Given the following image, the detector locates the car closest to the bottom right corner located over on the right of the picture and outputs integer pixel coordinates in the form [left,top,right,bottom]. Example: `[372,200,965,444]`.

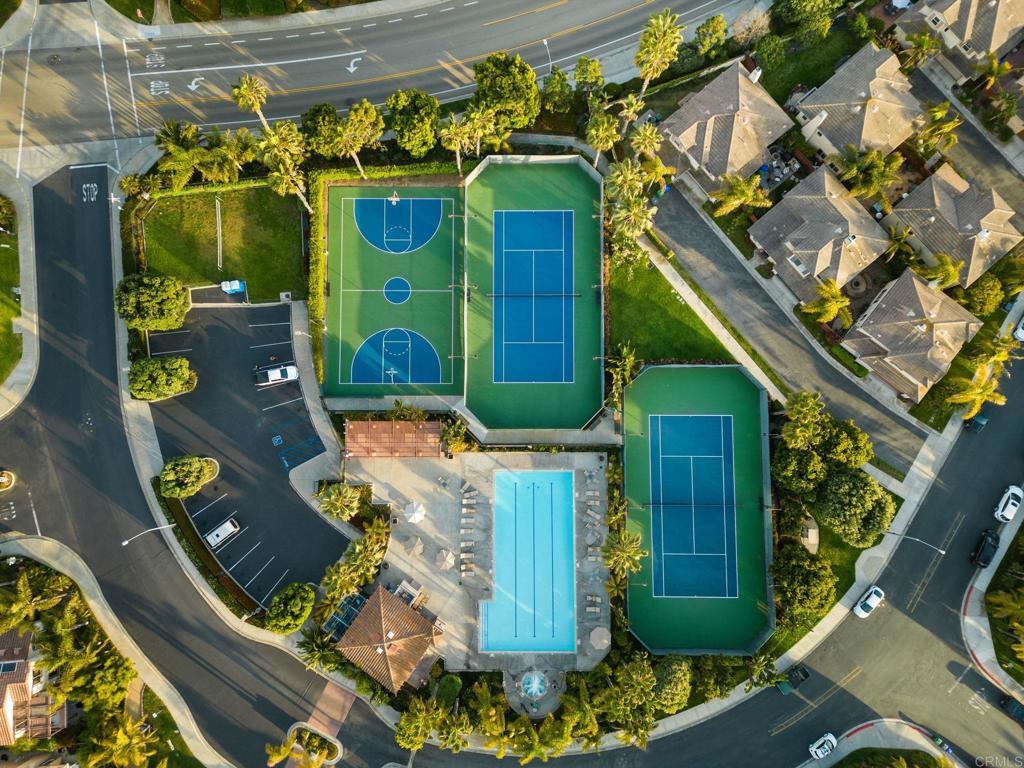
[999,693,1024,724]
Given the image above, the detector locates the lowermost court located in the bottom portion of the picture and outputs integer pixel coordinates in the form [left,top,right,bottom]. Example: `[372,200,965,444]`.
[622,365,776,656]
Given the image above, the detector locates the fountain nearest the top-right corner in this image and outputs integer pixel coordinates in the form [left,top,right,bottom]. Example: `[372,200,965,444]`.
[847,274,867,293]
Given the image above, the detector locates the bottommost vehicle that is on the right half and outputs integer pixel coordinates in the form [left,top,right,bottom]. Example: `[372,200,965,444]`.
[808,733,841,763]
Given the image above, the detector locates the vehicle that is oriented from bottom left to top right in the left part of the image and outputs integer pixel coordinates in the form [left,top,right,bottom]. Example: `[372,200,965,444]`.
[198,517,240,551]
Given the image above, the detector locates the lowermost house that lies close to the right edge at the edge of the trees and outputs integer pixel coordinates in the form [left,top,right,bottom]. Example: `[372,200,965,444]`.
[837,267,984,401]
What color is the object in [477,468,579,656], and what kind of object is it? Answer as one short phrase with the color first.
blue swimming pool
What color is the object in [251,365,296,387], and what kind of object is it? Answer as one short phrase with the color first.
white truck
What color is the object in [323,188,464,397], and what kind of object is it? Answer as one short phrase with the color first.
green basketball court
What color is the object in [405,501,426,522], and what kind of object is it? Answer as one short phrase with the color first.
white umbrella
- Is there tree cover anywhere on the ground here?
Yes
